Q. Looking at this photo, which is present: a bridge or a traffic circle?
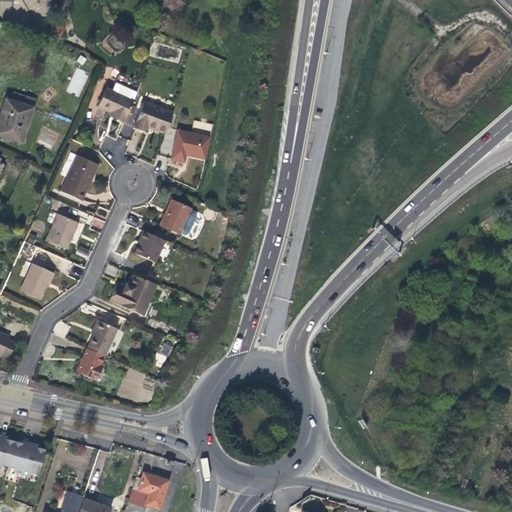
traffic circle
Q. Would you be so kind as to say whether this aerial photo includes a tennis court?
No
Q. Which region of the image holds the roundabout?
bottom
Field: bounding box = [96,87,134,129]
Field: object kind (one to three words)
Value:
house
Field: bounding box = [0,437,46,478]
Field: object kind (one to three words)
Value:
house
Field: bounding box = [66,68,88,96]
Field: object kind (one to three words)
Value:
shed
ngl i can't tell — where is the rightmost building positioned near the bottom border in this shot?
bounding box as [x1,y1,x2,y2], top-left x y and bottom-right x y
[128,472,170,510]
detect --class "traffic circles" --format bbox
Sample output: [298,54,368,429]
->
[180,348,325,505]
